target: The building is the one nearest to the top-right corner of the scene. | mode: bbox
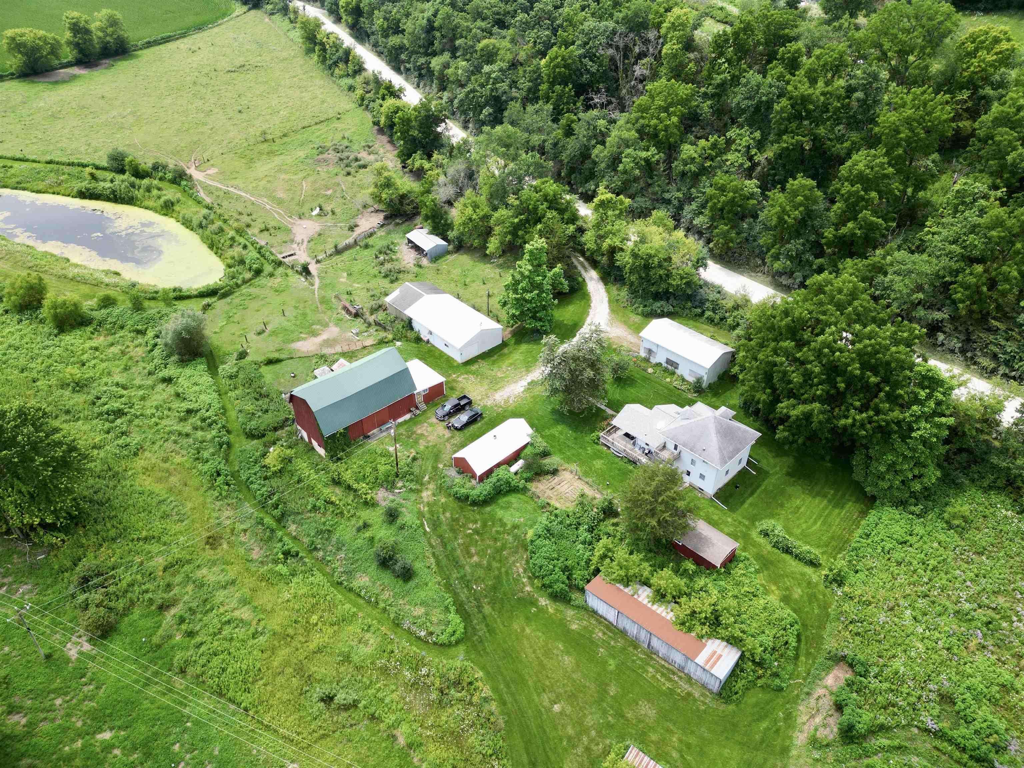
[639,318,735,386]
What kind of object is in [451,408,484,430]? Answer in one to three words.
car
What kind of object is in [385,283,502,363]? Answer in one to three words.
shed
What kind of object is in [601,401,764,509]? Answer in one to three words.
house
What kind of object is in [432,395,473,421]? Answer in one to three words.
truck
